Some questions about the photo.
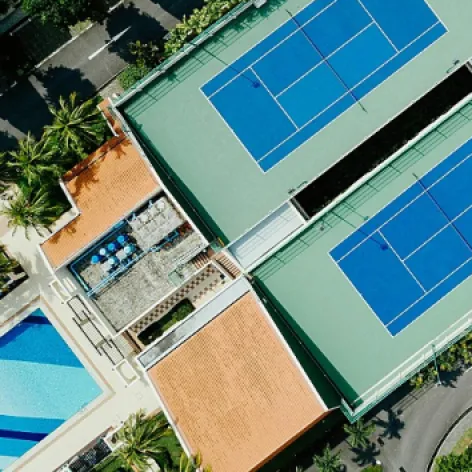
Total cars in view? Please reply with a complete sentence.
The photo contains no cars.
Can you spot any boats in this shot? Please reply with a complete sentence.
No, no boat can be seen from above.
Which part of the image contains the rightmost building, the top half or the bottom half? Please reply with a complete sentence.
The rightmost building is in the bottom half of the image.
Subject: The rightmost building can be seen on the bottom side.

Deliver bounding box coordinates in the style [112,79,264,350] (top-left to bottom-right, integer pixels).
[134,269,336,472]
